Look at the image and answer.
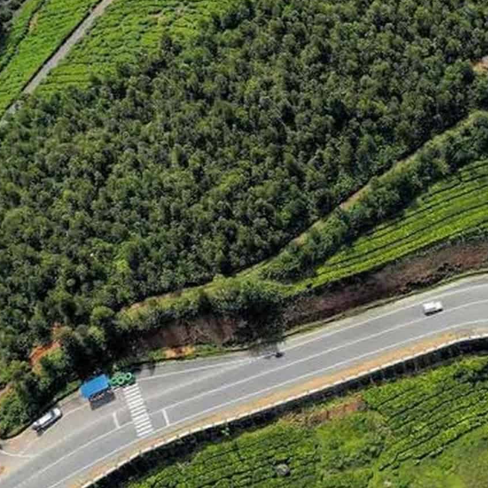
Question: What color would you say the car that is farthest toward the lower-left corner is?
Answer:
white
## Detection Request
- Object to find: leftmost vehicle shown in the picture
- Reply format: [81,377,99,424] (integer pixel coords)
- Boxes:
[33,410,63,432]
